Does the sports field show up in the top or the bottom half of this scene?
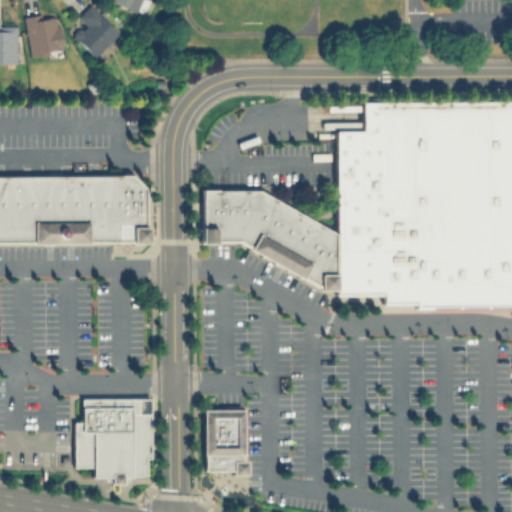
top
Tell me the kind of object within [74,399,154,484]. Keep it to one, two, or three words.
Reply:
building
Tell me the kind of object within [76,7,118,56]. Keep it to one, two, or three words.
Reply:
house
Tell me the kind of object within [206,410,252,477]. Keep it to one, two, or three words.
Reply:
building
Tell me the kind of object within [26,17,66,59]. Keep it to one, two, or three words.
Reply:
house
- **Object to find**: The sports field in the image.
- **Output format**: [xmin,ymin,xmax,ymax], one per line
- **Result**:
[176,0,404,51]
